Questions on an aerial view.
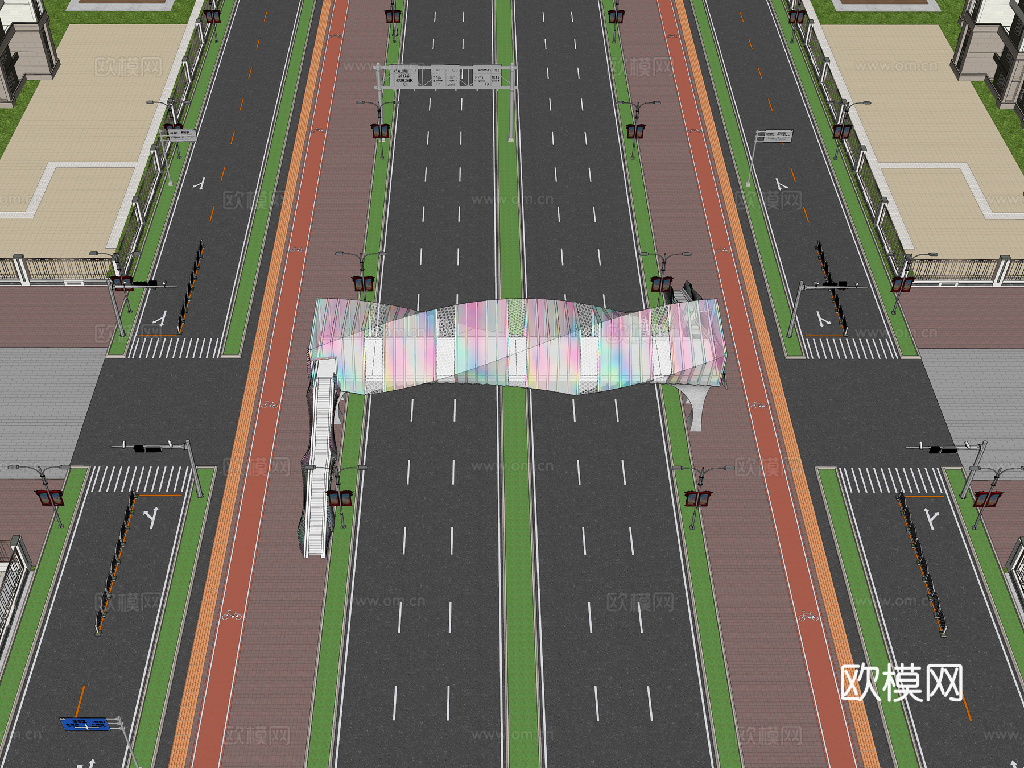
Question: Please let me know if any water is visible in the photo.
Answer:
No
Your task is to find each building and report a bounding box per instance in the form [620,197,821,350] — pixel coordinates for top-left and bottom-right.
[0,0,61,108]
[950,0,1024,129]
